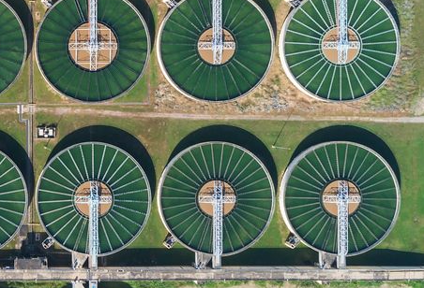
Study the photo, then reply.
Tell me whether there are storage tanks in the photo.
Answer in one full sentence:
Yes, a storage tank appears in the view.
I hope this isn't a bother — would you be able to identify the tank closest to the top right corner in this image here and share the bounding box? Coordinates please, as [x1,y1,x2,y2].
[279,0,399,102]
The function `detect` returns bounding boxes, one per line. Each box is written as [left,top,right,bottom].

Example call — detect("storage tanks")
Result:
[0,0,28,95]
[279,140,399,267]
[35,0,151,103]
[279,0,399,102]
[35,142,151,268]
[157,0,275,102]
[0,150,28,248]
[157,140,275,268]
